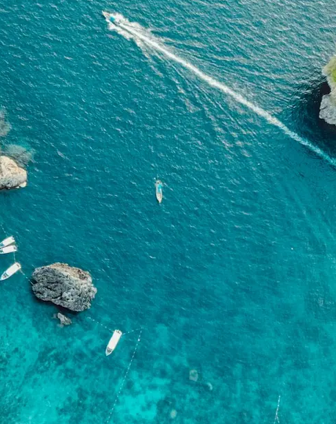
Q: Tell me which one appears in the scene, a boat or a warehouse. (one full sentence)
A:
It is a boat that can be seen here.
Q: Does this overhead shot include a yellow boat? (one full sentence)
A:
No, this view has no yellow boat in it.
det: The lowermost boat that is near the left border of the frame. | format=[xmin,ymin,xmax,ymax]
[0,261,22,279]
